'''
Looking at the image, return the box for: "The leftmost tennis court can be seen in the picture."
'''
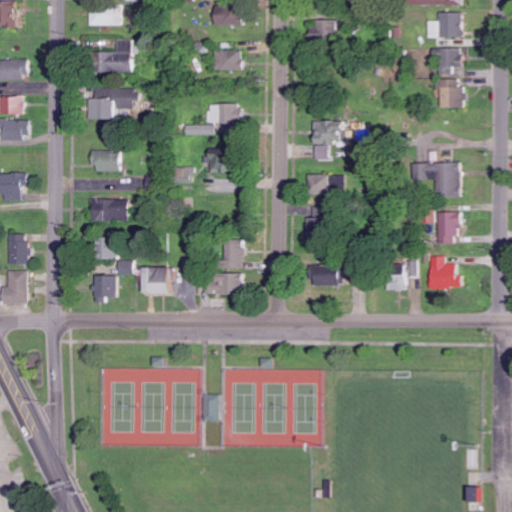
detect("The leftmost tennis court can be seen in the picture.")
[103,368,139,446]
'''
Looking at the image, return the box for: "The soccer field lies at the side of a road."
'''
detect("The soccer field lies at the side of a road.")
[334,373,479,512]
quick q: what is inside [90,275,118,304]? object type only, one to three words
house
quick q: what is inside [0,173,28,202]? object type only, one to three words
house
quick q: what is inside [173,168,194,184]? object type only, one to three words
building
